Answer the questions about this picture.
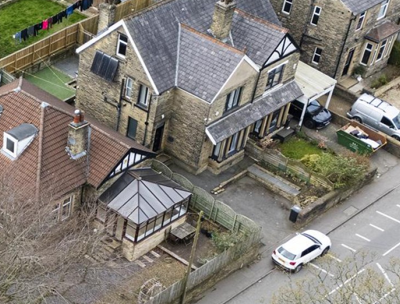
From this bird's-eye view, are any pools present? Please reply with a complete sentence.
No, the picture doesn't show any pool.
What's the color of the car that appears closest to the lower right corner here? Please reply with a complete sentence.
The car that appears closest to the lower right corner is white.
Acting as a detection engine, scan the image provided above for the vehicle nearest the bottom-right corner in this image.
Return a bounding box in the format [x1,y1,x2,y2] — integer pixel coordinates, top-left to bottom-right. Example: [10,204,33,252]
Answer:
[269,229,333,274]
